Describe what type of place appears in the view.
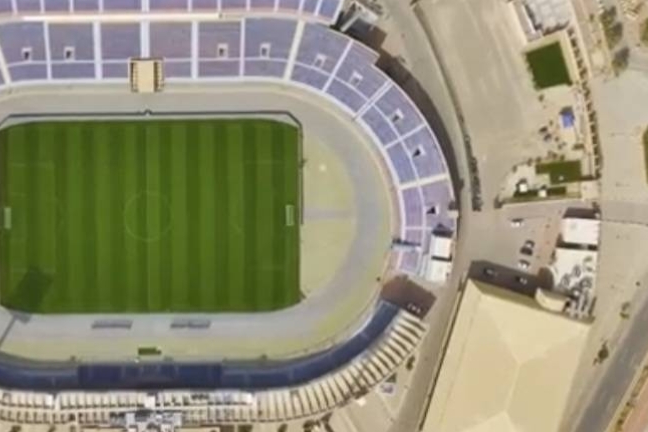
sports ground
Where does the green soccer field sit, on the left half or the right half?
left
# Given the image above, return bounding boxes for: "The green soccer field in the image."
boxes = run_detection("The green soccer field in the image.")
[0,112,301,312]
